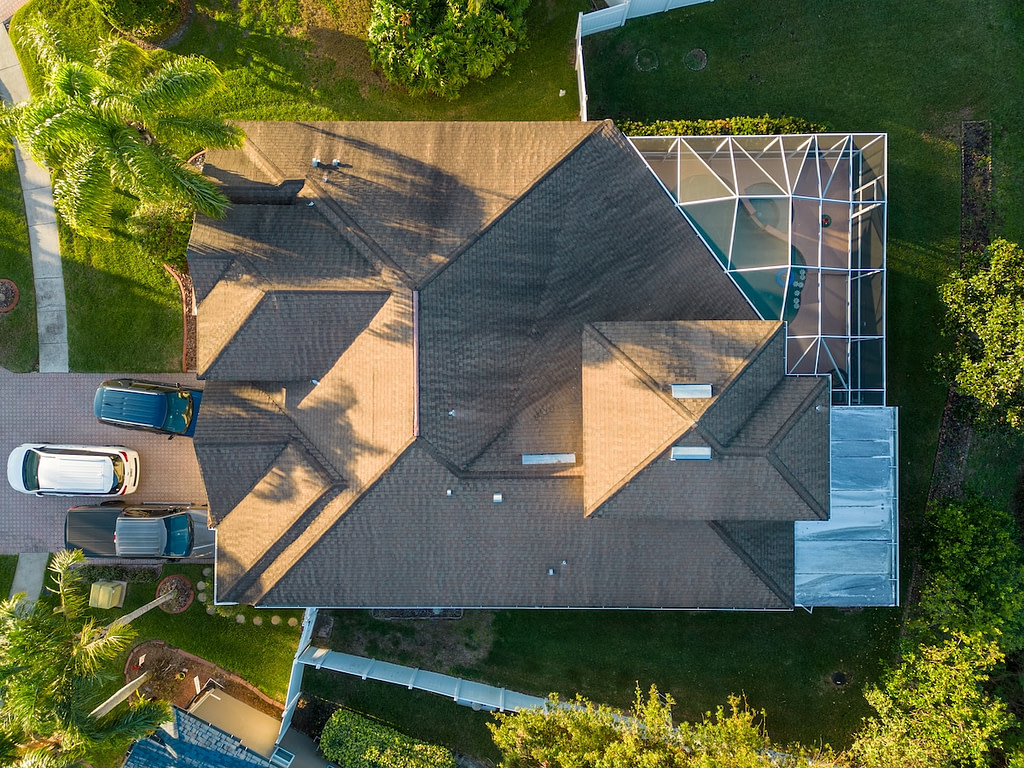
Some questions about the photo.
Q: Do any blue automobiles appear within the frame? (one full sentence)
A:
Yes, there's a blue automobile down there.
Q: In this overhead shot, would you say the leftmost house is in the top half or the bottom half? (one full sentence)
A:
The leftmost house is in the bottom half of the image.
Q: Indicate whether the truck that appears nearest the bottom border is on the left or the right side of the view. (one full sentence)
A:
The truck that appears nearest the bottom border appears in the left half of the scene.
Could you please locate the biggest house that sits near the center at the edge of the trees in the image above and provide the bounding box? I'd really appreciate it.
[180,120,834,610]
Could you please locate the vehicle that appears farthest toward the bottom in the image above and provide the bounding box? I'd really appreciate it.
[65,499,211,569]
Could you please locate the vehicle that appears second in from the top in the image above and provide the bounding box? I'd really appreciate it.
[7,441,138,499]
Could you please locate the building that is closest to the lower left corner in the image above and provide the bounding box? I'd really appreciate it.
[135,672,346,768]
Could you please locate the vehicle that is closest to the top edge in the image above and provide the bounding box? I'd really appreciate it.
[96,378,204,438]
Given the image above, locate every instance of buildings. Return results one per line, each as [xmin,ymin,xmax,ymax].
[135,672,346,768]
[180,120,834,610]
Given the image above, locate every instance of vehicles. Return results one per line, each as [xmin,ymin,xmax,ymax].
[96,378,204,438]
[7,441,138,499]
[65,499,211,569]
